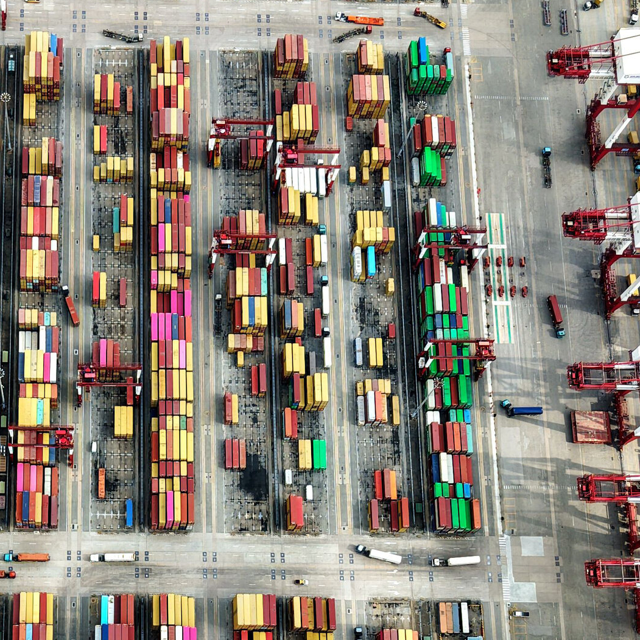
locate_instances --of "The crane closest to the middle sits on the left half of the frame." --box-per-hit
[208,230,277,280]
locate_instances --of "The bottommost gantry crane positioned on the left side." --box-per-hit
[7,423,74,468]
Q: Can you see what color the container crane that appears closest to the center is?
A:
red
